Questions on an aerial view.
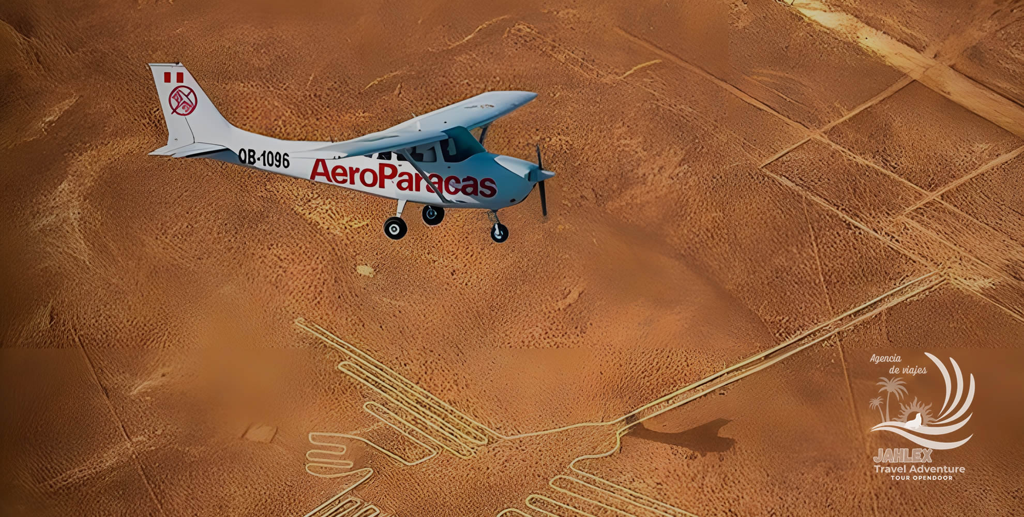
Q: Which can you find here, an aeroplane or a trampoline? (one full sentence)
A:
I can see an aeroplane in this picture.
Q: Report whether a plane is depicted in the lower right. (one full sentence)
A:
No, no plane appears in the lower right.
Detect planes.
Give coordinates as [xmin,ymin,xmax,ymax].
[146,62,555,242]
